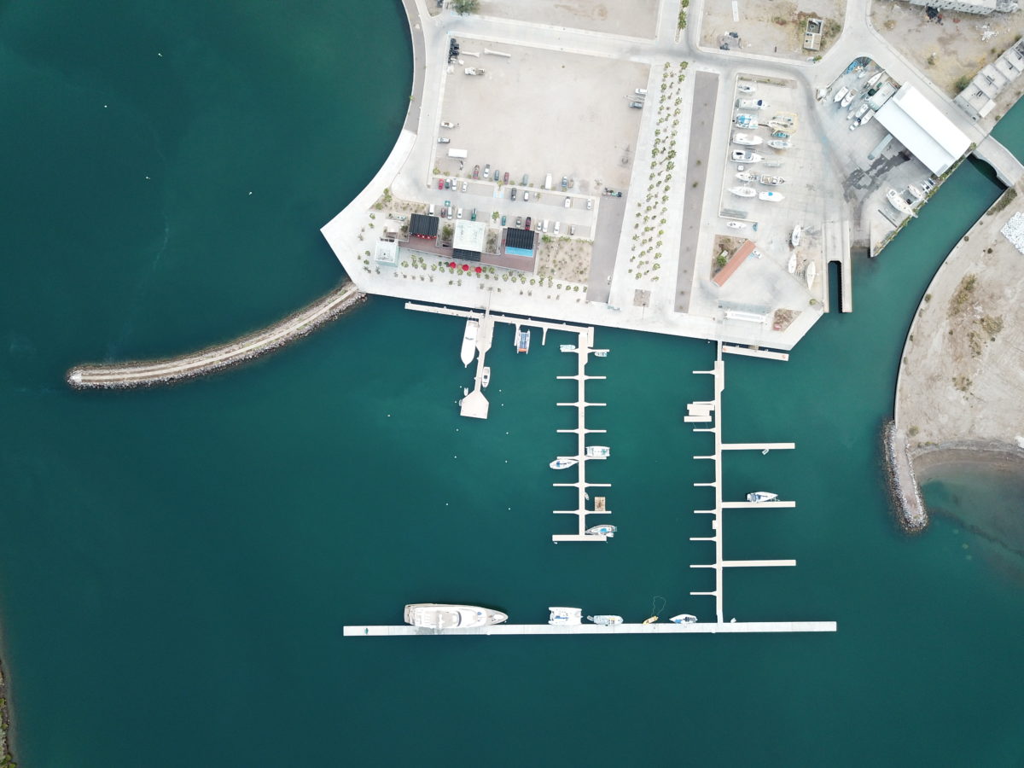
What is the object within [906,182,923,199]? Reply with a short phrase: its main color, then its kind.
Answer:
white boat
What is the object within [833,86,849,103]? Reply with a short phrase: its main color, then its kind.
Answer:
white boat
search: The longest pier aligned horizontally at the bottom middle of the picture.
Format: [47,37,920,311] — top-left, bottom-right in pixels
[344,621,836,636]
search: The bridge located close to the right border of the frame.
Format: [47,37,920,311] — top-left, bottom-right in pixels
[968,134,1024,189]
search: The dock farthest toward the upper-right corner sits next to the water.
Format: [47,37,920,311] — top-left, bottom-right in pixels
[822,205,852,313]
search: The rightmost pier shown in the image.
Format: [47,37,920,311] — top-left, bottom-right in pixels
[883,422,929,530]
